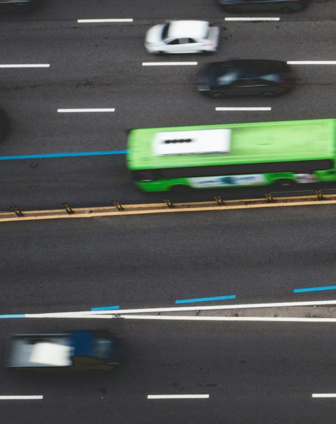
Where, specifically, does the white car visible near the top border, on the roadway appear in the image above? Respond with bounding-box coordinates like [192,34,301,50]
[145,16,220,54]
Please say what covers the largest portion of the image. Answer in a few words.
paved ground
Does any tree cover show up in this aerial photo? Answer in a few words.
No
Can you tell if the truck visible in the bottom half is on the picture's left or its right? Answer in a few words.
left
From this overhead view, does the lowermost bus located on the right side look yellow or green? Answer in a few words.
green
